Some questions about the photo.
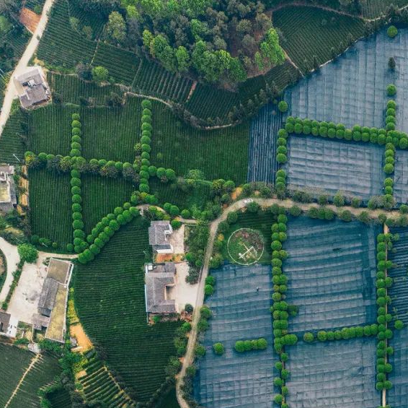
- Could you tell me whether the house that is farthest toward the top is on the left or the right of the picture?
left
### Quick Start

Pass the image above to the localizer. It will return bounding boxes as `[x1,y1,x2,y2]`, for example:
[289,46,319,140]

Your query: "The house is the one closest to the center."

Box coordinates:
[149,219,176,257]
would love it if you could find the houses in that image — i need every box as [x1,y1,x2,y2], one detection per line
[145,263,177,315]
[0,166,18,213]
[15,70,49,110]
[0,312,17,338]
[31,258,75,344]
[149,219,176,257]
